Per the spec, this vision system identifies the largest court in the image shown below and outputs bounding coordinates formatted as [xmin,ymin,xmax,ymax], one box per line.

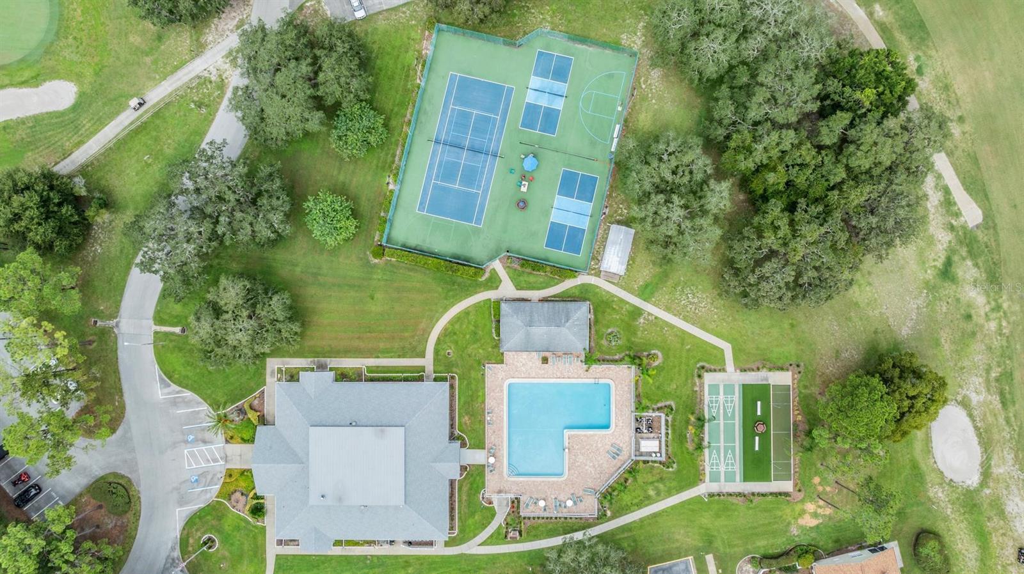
[386,32,635,271]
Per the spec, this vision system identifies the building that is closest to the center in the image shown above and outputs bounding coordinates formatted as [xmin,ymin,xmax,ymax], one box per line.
[500,301,590,353]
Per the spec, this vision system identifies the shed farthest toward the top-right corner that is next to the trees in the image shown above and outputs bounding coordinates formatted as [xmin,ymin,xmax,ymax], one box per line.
[601,224,634,275]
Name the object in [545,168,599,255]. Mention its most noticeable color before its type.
blue sports court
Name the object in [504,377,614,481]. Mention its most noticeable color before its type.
blue swimming pool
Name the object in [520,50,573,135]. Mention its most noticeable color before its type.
blue sports court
